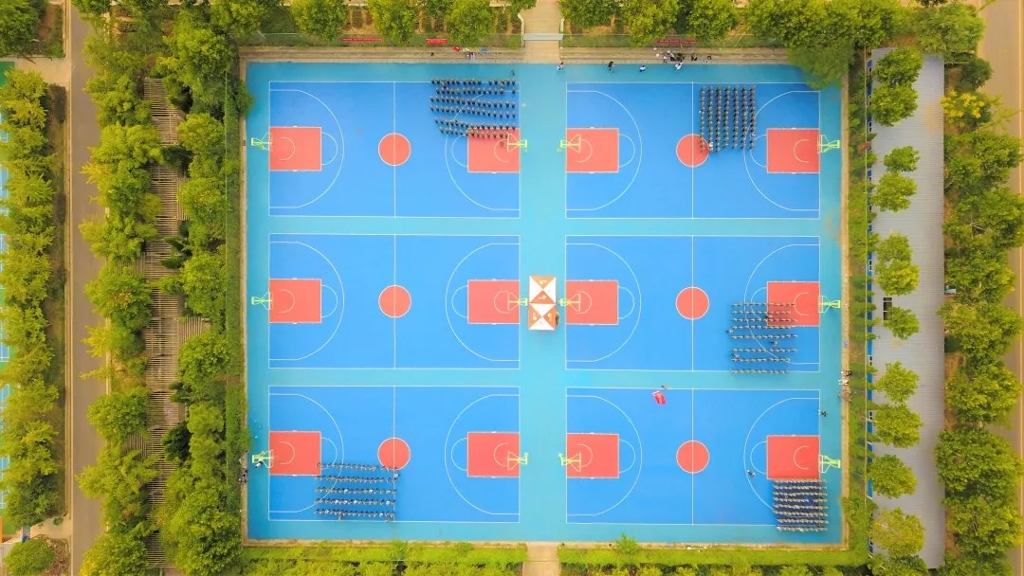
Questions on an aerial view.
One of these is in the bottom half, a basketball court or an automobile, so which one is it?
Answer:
basketball court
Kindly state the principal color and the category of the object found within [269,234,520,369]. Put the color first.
blue basketball court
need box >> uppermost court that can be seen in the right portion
[566,82,820,219]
